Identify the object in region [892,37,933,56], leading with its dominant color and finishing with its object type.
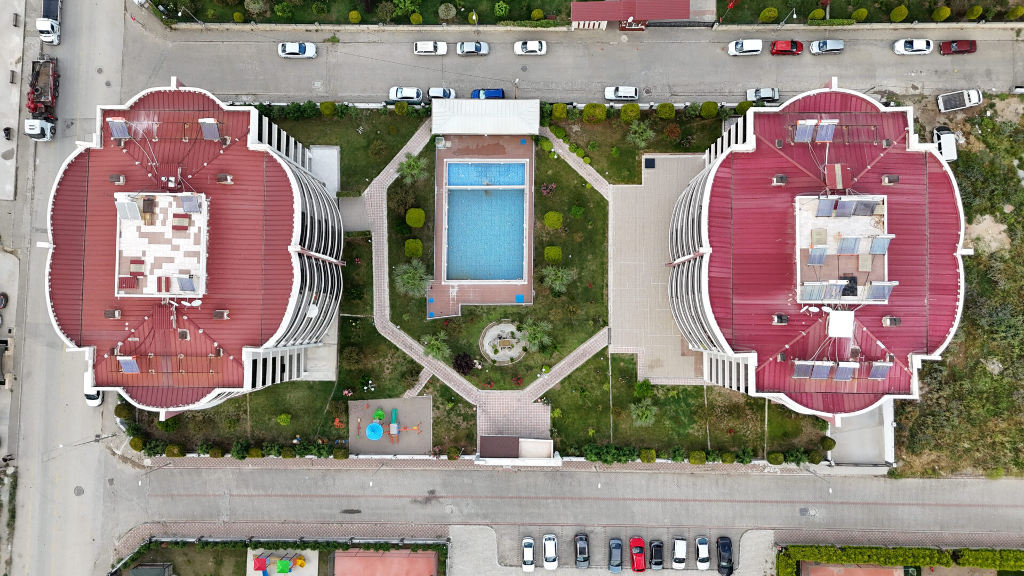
white car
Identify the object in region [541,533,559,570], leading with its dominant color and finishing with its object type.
white car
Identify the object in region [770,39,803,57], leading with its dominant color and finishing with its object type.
red car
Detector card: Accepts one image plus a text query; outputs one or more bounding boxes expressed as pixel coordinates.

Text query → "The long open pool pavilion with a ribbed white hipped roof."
[432,99,540,138]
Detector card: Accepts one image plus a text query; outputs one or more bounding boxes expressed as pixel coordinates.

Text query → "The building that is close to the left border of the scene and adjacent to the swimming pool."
[38,77,340,419]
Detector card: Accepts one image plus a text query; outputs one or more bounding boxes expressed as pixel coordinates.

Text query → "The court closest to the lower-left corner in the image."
[326,551,437,576]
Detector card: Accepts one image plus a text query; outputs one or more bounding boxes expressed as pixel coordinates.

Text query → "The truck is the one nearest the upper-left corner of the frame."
[38,0,64,47]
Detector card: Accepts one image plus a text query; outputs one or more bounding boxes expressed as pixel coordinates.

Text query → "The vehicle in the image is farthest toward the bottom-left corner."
[86,367,107,400]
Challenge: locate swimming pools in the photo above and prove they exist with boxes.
[426,135,534,319]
